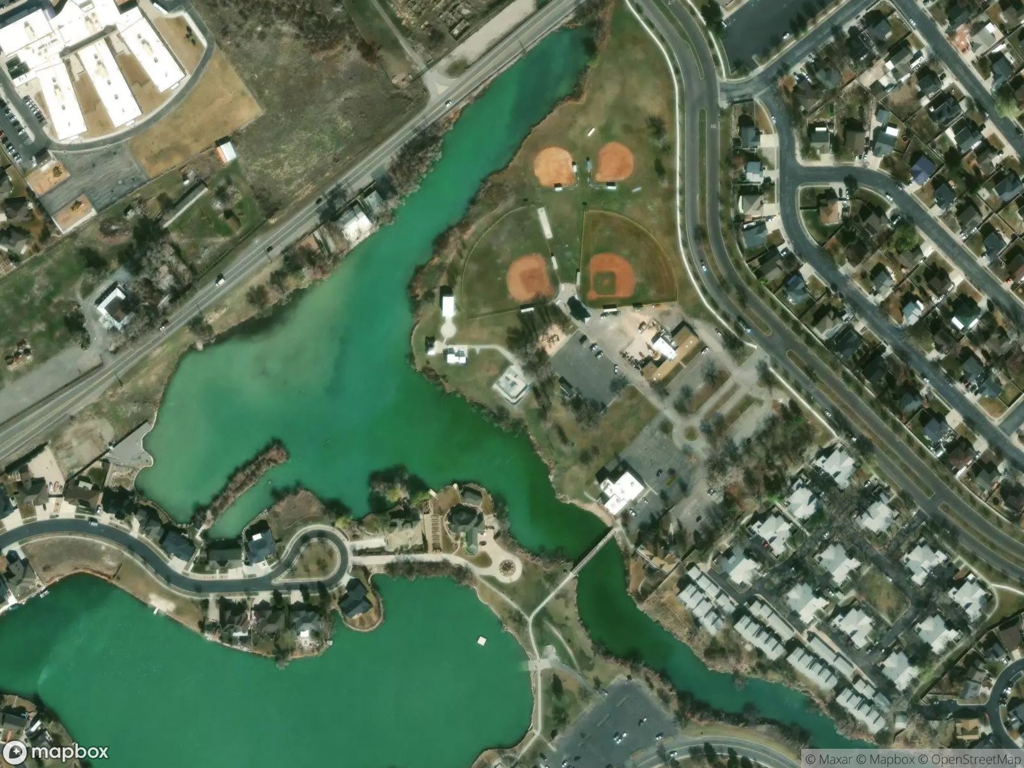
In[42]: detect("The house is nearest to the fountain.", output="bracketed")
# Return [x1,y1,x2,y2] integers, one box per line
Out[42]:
[448,504,485,552]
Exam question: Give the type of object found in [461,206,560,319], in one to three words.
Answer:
baseball field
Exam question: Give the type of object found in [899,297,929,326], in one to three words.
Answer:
house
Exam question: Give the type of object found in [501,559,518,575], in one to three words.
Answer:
fountain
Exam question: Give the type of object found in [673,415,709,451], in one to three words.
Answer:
roundabout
